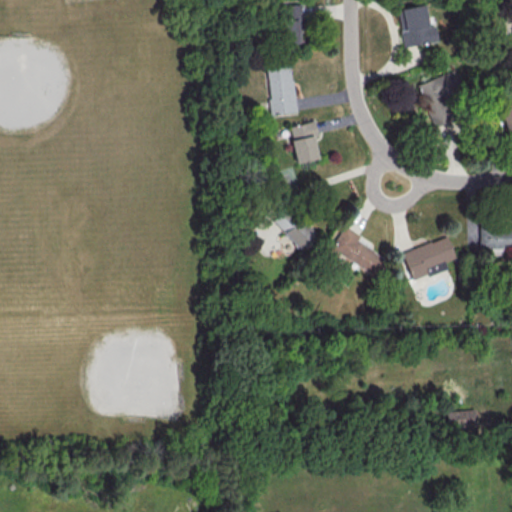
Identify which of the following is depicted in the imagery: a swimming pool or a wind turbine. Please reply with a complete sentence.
The image shows a swimming pool.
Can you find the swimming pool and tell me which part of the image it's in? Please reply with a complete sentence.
You can find the swimming pool in the right area of the picture.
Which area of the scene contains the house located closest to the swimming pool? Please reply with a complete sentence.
The house located closest to the swimming pool sits in the right section of the image.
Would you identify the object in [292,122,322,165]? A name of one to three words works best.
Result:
house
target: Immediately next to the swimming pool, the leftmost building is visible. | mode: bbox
[337,228,383,276]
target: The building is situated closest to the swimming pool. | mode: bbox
[405,238,456,278]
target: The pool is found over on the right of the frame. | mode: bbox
[403,262,454,307]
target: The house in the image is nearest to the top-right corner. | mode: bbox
[400,6,440,48]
